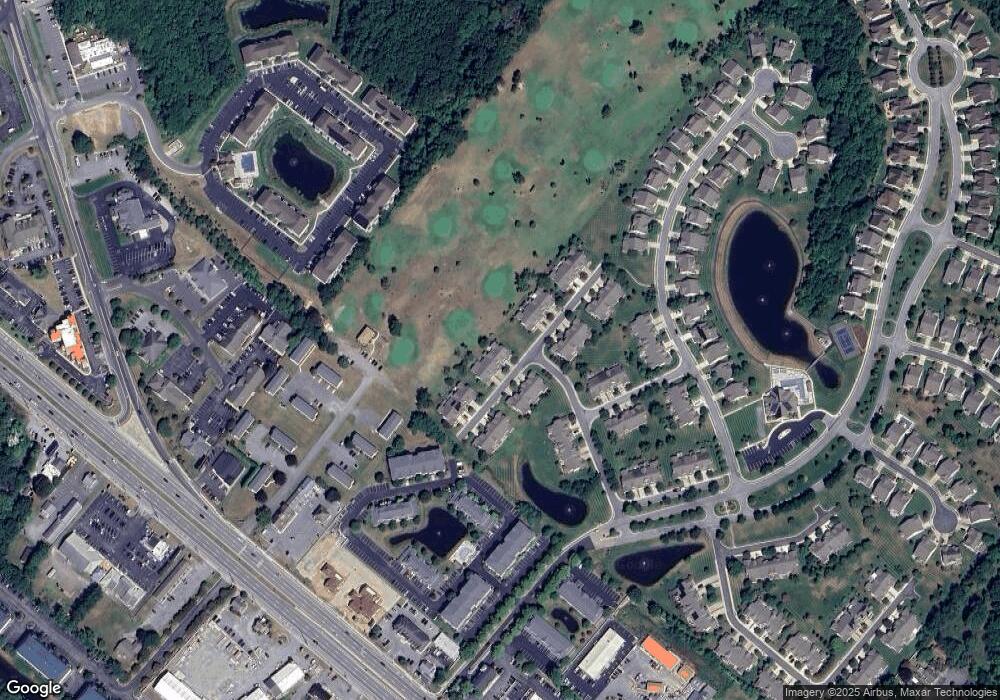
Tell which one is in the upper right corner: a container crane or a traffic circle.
traffic circle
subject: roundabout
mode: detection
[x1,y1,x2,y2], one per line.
[908,39,967,97]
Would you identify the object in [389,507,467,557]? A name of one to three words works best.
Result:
pond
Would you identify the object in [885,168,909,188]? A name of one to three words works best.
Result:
house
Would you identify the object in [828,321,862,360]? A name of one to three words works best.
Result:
sports court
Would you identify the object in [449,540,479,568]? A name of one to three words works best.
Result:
swimming pool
